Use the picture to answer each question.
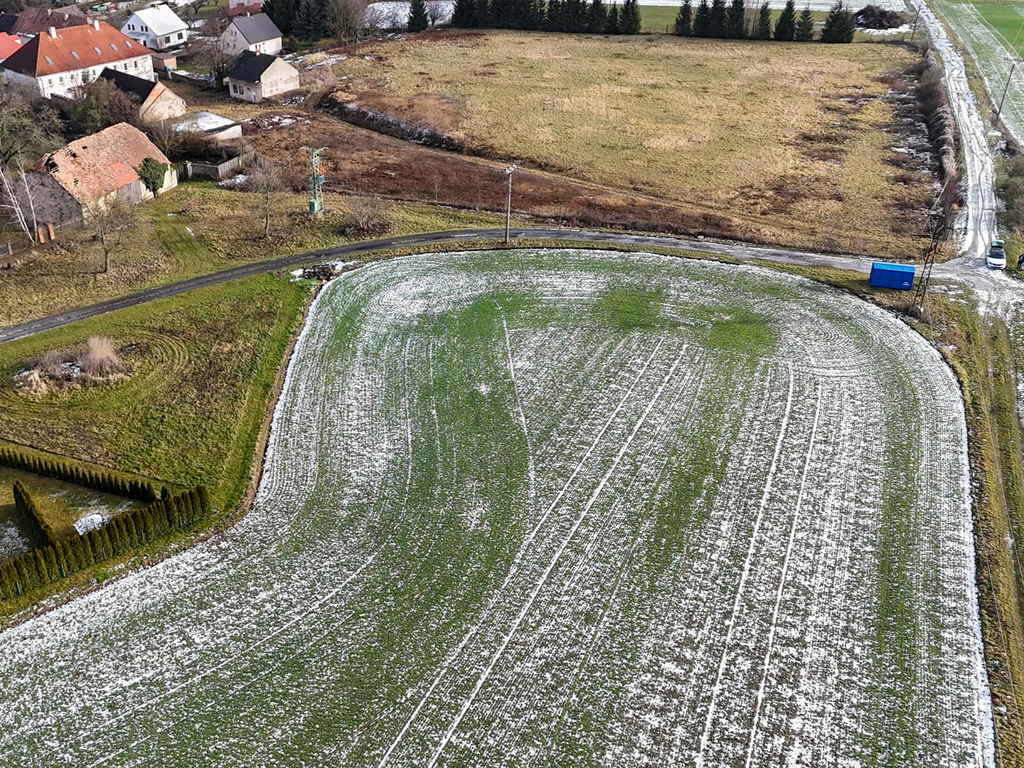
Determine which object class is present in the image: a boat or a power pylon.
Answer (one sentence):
Visible in the photo is a power pylon.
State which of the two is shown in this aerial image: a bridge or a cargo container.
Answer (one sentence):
Of the two, only a cargo container appears.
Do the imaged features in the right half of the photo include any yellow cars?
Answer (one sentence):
No, no yellow car is visible in the right half of the photo.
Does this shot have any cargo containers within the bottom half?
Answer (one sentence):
No, no cargo container is visible within the bottom half.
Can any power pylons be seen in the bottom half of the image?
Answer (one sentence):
No, I see no power pylon in the bottom half of the image.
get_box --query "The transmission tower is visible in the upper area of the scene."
[909,202,969,312]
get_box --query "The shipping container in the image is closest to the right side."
[866,261,920,290]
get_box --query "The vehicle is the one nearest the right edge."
[983,233,1012,266]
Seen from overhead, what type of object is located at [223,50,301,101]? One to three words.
house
